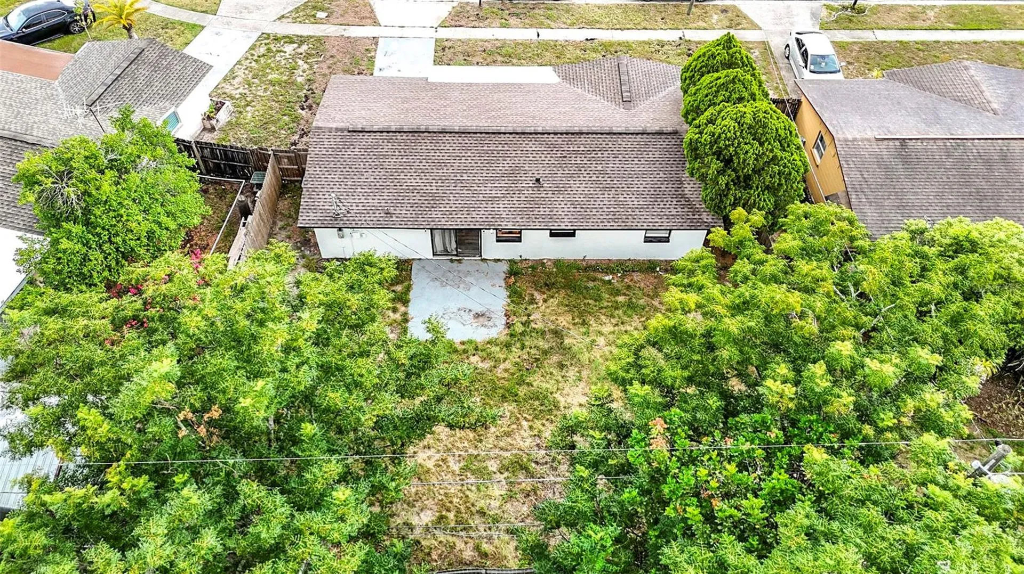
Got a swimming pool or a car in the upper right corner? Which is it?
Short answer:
car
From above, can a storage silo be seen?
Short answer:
No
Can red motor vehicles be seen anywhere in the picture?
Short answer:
No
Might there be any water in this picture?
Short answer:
No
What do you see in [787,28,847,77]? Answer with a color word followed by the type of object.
white car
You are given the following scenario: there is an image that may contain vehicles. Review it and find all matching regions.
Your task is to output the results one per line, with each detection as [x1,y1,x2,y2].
[787,28,847,77]
[0,0,92,45]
